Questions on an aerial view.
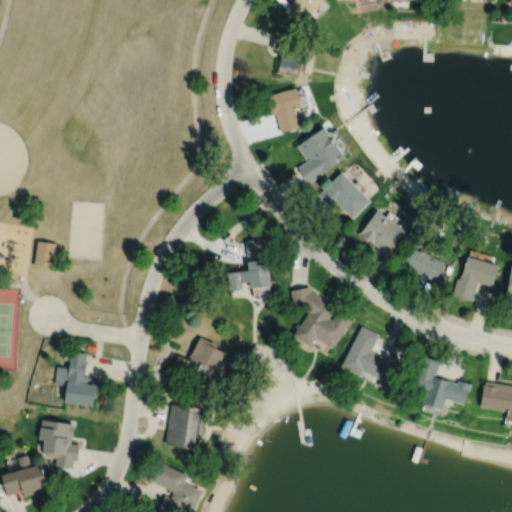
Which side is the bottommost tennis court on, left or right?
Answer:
left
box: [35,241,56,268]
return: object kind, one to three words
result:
building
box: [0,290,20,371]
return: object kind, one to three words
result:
tennis court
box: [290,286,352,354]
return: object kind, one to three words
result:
house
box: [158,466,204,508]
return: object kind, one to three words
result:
house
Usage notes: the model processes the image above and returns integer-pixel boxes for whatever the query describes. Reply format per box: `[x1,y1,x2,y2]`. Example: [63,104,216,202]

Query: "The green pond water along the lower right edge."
[228,408,512,512]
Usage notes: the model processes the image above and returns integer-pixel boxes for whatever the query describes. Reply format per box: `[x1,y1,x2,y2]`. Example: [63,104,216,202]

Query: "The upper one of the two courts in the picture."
[70,202,105,259]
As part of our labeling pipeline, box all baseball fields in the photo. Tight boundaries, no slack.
[0,124,28,195]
